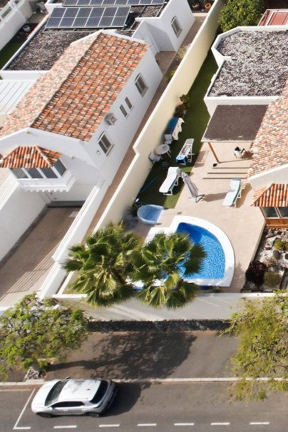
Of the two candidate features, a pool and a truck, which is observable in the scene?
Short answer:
pool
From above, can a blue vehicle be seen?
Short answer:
No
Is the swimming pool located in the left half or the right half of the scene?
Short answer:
right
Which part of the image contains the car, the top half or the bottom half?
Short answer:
bottom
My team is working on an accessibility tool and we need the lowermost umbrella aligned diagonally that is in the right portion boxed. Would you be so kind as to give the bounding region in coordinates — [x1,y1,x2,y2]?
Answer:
[170,160,202,203]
